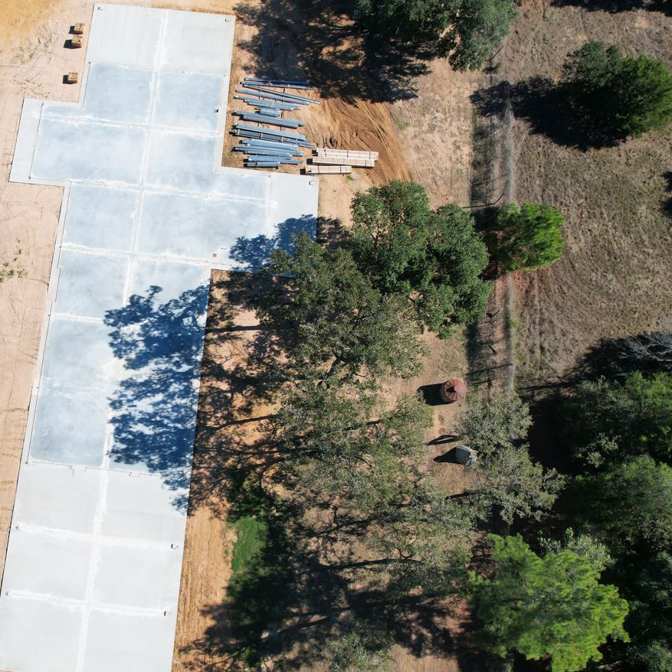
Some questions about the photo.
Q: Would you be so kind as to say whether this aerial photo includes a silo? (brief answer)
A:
Yes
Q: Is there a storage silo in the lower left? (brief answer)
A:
No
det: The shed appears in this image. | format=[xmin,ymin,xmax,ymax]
[457,449,482,469]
